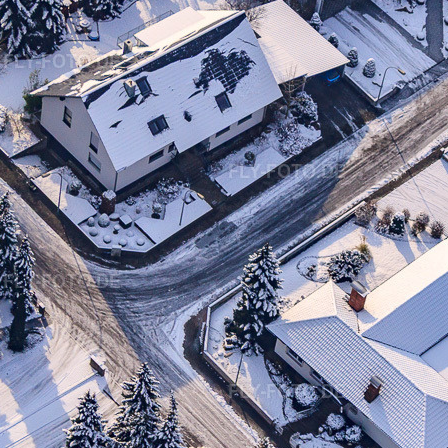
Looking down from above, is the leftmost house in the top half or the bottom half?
top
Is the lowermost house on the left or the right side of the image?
right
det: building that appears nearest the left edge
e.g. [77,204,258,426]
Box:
[30,4,283,184]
